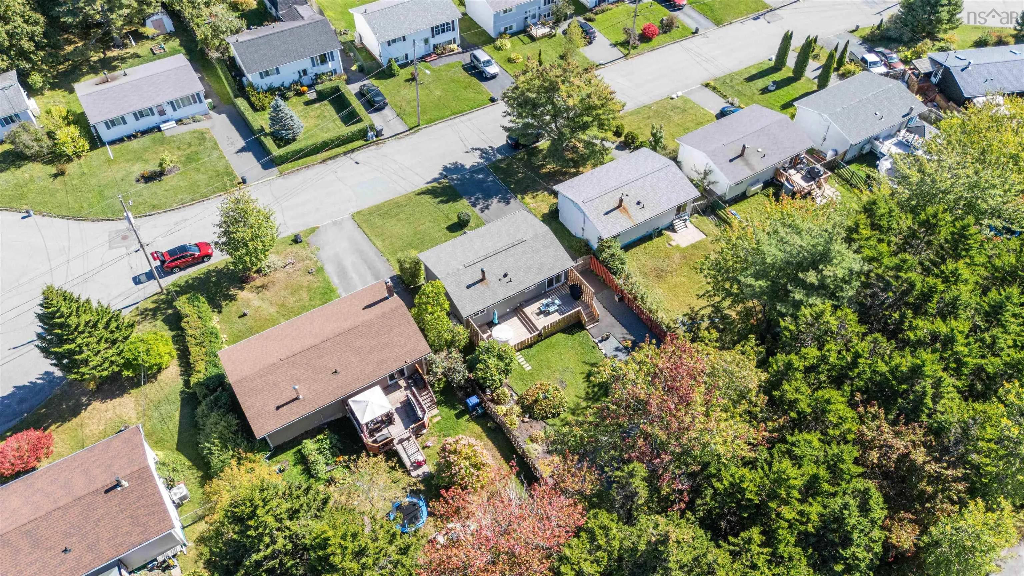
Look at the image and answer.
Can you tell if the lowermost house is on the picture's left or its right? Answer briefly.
left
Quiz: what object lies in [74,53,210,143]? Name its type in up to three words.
house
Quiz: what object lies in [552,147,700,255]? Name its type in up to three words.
house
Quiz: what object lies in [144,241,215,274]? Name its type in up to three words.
car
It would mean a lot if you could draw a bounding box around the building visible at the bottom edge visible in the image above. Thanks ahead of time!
[0,422,191,576]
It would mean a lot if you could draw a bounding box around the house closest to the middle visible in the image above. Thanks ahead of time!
[417,208,576,332]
